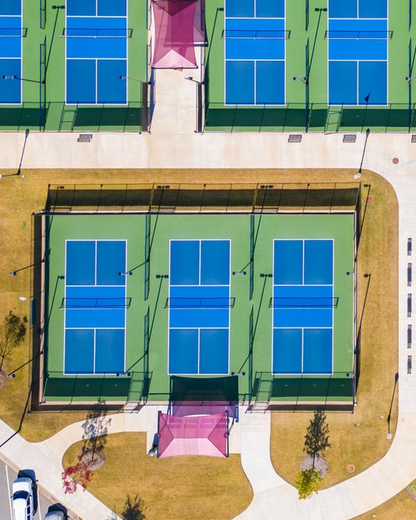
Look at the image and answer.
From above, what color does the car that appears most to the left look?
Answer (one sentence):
The car that appears most to the left is white.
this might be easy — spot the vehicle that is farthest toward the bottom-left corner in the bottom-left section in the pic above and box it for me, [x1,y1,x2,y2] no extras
[9,476,36,520]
